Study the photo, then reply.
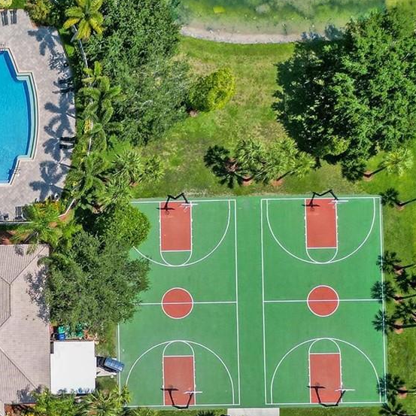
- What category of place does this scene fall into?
sports ground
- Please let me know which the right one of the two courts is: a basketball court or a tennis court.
basketball court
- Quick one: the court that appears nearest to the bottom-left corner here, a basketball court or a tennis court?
basketball court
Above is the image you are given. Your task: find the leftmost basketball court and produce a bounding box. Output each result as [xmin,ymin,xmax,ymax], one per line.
[110,196,251,409]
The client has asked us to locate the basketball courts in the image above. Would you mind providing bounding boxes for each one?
[247,194,388,408]
[110,196,251,409]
